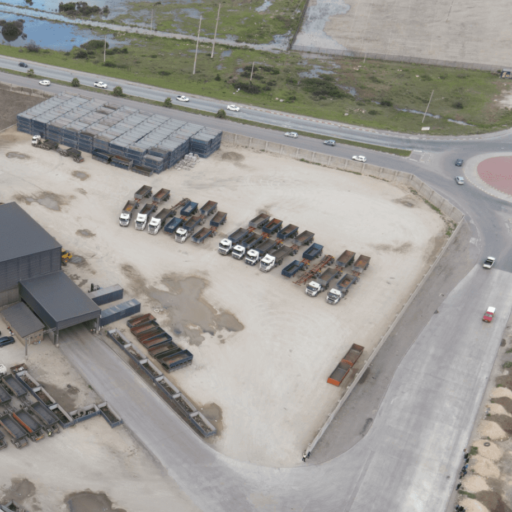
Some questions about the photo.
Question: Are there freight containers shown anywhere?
Yes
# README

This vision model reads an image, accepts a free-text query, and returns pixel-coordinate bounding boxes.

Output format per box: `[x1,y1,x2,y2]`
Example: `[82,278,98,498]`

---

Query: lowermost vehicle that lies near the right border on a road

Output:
[483,303,497,321]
